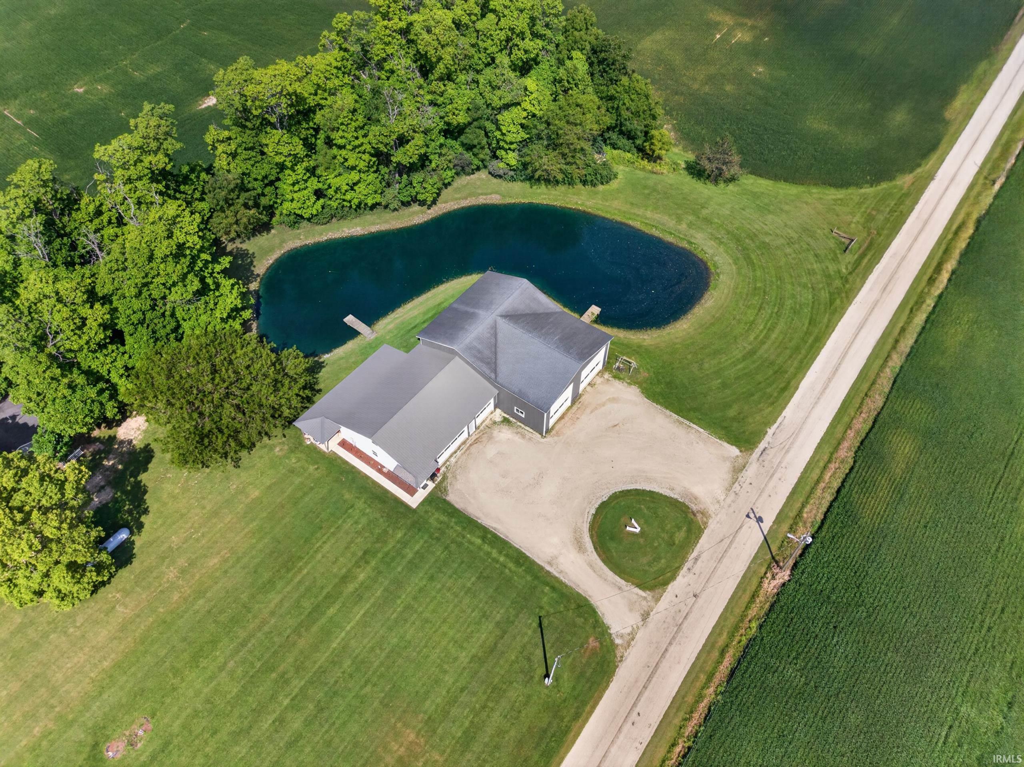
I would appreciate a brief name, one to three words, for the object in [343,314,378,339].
pier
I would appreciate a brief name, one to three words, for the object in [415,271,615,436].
building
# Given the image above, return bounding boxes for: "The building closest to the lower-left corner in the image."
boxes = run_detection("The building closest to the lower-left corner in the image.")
[293,343,498,497]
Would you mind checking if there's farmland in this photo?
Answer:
Yes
